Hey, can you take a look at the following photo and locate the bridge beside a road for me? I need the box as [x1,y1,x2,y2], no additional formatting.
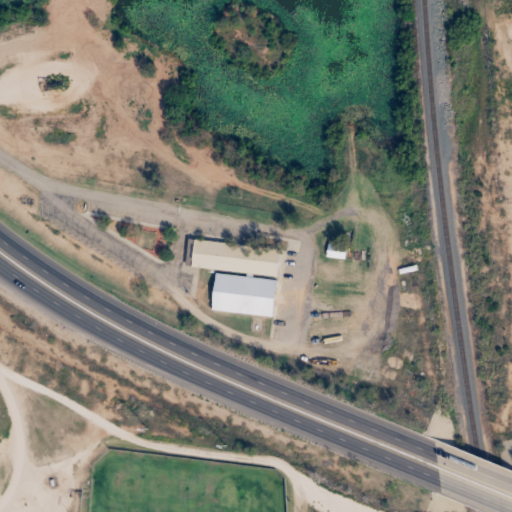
[420,440,512,512]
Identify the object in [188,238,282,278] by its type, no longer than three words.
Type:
building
